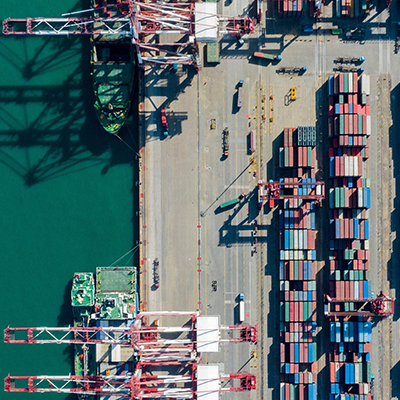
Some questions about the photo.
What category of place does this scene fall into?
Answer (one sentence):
This image shows a port.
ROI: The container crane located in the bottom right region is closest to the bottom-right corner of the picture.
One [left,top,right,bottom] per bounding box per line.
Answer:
[322,293,396,319]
